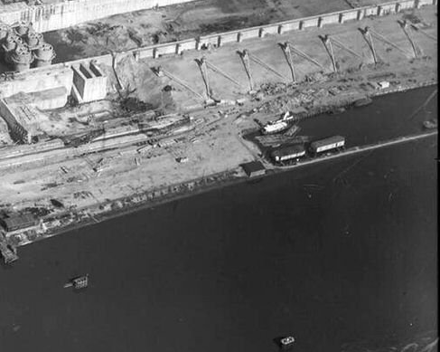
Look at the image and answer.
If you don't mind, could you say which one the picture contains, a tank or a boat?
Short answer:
boat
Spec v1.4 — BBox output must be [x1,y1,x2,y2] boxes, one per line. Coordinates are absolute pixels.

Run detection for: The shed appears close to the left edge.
[0,205,42,235]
